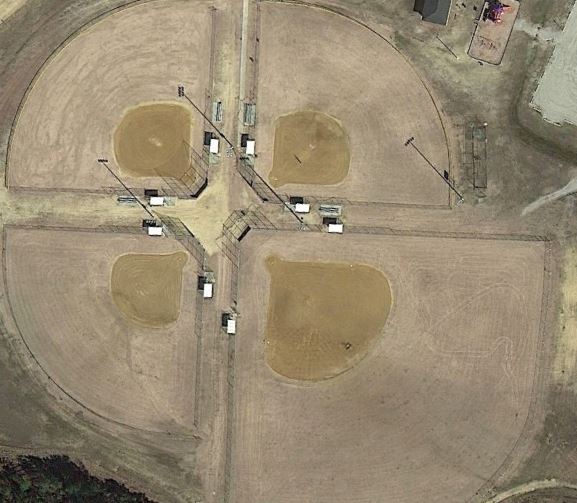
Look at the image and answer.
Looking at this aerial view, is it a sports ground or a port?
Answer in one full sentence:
This image shows a sports ground.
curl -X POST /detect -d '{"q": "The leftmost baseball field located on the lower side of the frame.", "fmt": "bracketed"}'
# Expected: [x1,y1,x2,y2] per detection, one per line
[5,230,205,436]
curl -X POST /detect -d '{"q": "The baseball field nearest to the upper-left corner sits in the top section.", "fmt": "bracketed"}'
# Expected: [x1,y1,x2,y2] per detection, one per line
[8,0,214,198]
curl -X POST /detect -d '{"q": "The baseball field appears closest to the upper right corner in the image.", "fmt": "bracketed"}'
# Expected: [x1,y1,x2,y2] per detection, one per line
[251,2,451,208]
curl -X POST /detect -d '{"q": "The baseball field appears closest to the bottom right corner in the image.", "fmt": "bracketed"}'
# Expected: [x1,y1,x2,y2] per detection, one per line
[231,228,548,503]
